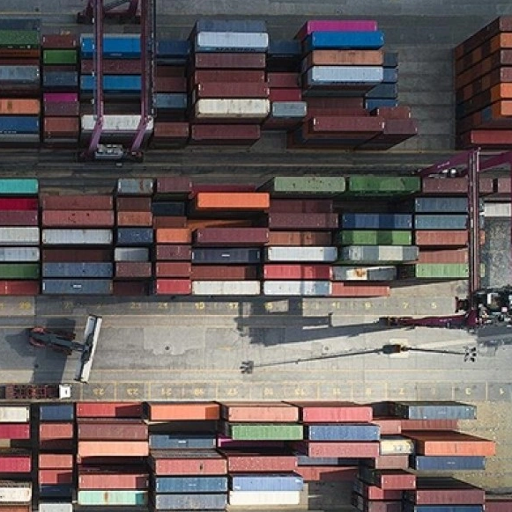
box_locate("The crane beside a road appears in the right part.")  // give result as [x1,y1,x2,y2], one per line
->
[375,148,512,333]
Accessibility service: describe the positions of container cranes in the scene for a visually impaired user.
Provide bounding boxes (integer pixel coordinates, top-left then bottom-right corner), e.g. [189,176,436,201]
[375,148,512,333]
[67,0,152,155]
